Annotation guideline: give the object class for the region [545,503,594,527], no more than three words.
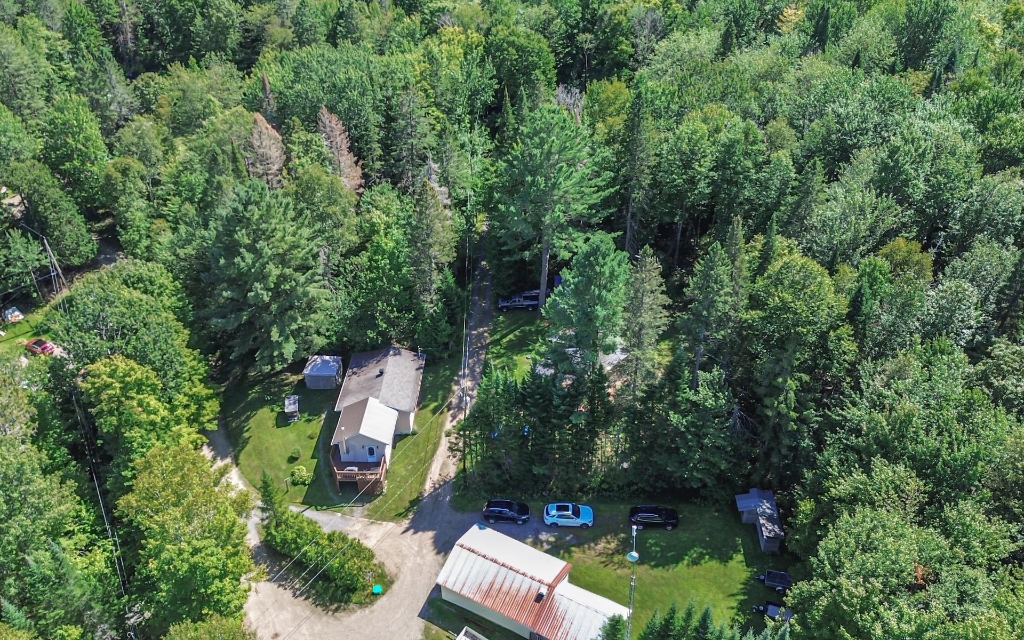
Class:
car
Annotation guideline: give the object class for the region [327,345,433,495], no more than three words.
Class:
house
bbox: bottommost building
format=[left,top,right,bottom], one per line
[437,523,639,640]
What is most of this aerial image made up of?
trees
